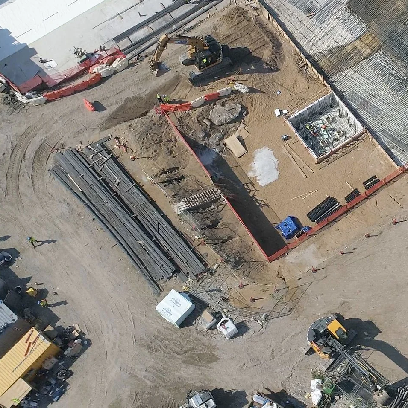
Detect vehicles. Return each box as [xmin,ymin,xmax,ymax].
[302,310,397,408]
[149,26,233,79]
